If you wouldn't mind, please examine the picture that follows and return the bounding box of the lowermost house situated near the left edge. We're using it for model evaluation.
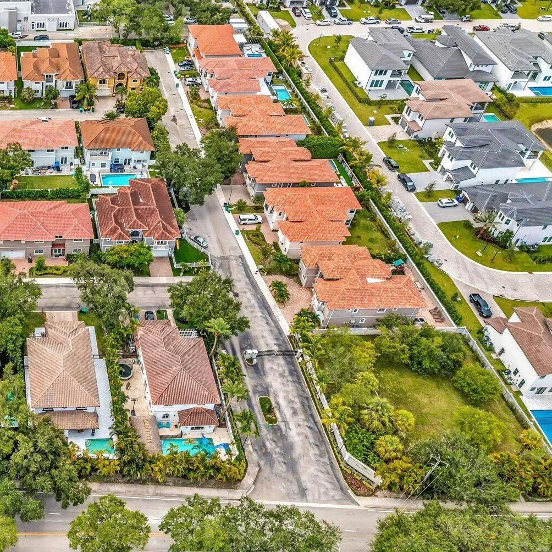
[26,321,101,437]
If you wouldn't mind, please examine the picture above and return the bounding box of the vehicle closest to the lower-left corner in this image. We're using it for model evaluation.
[144,303,156,319]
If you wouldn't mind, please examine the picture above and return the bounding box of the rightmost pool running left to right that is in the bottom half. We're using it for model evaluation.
[159,439,218,455]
